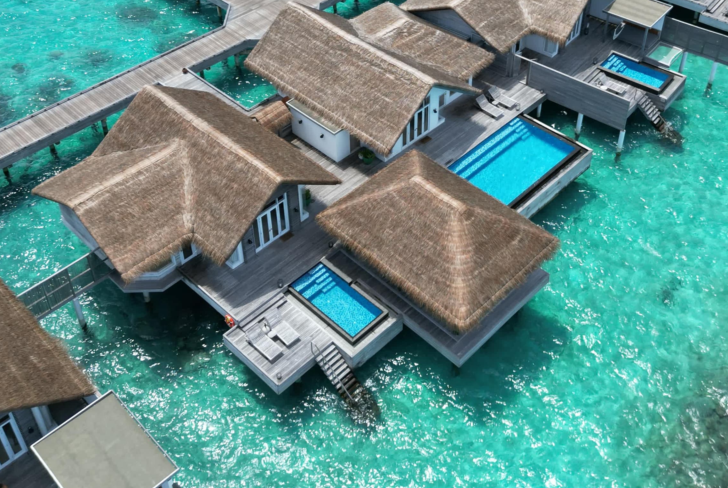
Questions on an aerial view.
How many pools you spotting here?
3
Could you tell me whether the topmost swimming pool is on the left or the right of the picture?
right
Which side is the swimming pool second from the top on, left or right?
right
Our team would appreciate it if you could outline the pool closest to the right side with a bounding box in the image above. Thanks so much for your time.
[596,50,687,112]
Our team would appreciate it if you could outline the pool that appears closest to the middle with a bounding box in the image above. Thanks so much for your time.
[283,258,403,368]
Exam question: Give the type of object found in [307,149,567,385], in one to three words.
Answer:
building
